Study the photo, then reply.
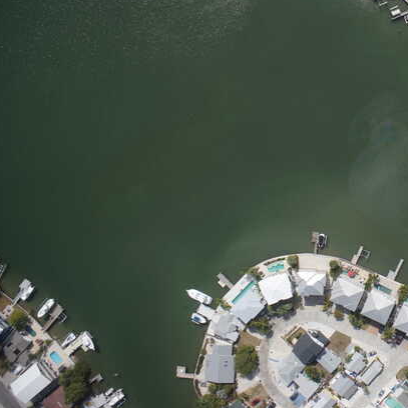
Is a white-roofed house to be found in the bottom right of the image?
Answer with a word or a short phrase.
Yes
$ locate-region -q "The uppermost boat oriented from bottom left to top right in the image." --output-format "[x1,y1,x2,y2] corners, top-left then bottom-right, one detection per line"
[24,281,36,298]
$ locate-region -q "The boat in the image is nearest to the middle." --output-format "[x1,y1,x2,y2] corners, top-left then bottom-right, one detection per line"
[186,290,214,305]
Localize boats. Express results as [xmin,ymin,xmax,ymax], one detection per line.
[186,290,214,305]
[189,311,207,324]
[316,234,325,250]
[24,281,36,298]
[39,298,56,317]
[82,331,95,350]
[62,333,77,346]
[106,393,123,408]
[103,389,115,400]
